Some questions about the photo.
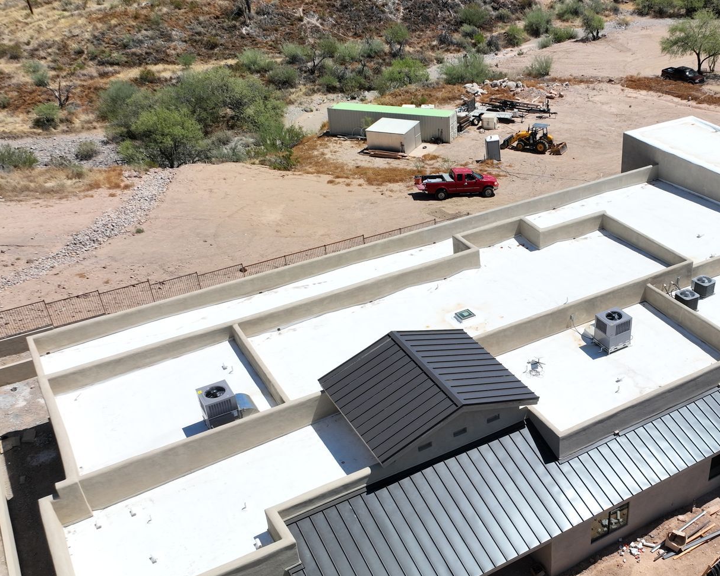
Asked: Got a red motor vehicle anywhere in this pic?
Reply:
Yes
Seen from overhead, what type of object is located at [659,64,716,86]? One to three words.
truck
